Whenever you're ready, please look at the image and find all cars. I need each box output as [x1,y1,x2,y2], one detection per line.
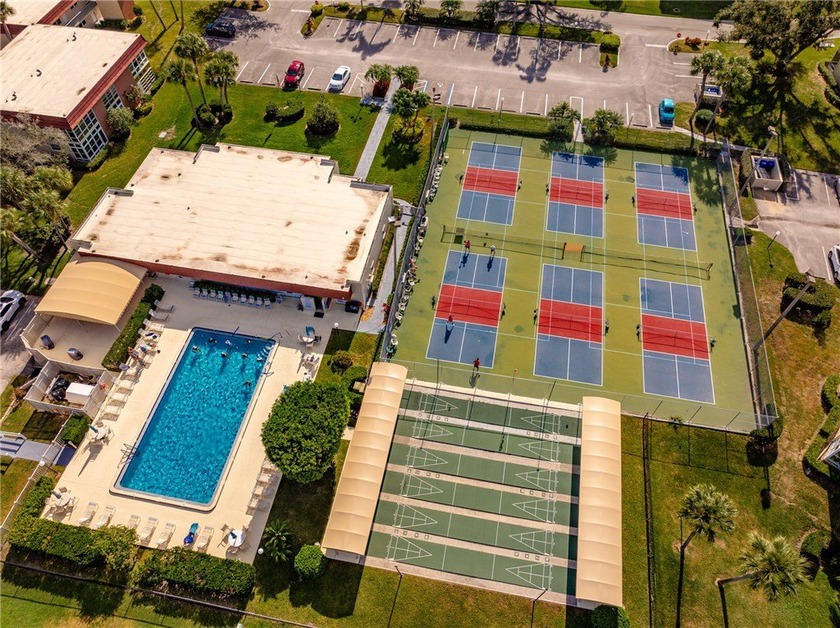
[825,245,840,279]
[203,20,237,39]
[0,284,29,325]
[330,69,351,93]
[657,102,677,125]
[283,65,305,88]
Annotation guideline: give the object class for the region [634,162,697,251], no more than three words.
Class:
sports court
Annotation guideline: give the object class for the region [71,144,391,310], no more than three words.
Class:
building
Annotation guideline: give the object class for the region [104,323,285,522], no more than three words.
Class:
swimming pool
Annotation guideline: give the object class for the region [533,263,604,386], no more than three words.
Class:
sports court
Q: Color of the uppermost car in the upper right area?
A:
blue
